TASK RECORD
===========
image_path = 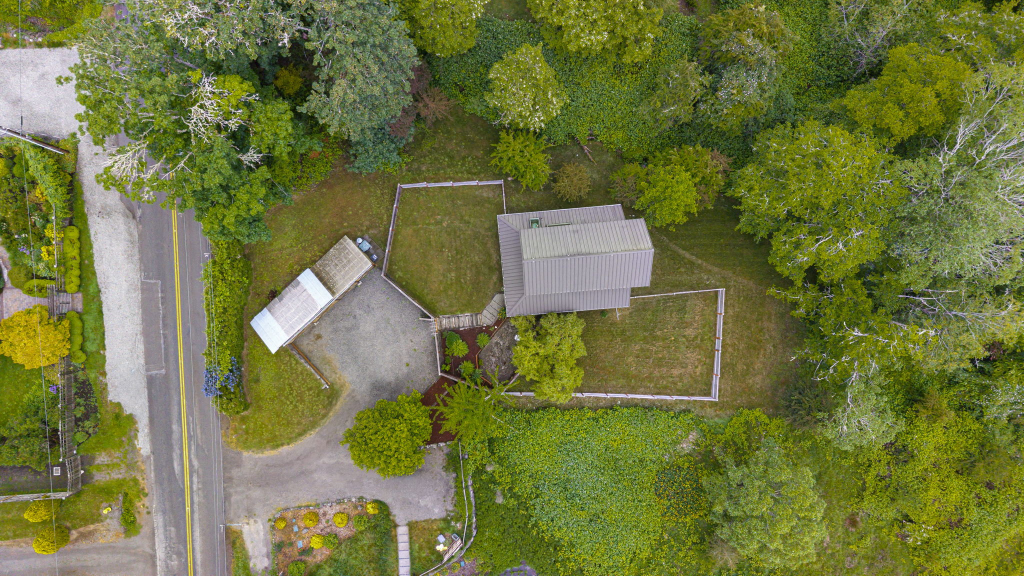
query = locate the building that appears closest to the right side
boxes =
[496,203,654,318]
